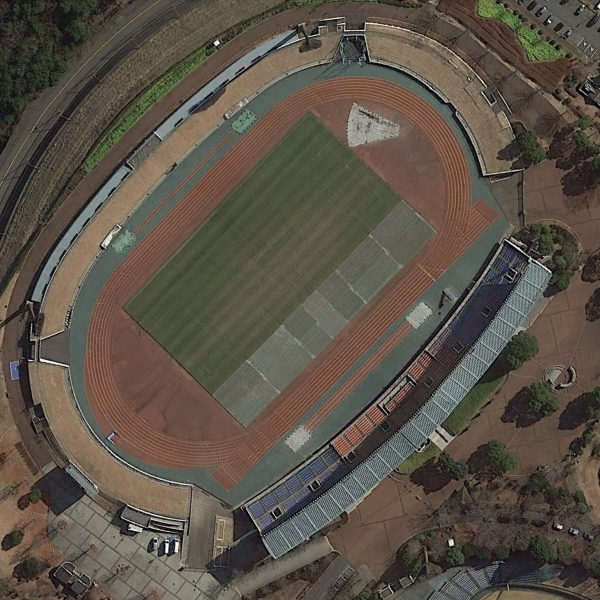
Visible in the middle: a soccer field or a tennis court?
soccer field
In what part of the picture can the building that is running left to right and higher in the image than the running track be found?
top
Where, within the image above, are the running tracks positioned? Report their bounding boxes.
[69,62,512,510]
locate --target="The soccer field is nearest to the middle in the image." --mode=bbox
[121,112,435,428]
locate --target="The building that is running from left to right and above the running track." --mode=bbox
[299,16,346,40]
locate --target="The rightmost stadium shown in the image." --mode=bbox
[415,547,600,600]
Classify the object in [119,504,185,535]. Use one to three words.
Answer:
building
